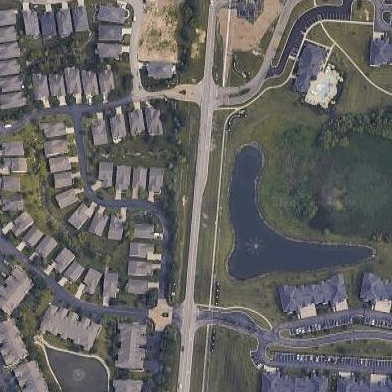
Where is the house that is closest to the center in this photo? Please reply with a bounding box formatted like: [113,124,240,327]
[148,165,164,194]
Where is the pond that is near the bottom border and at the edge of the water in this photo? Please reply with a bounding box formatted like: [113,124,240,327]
[45,348,108,392]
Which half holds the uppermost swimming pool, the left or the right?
right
